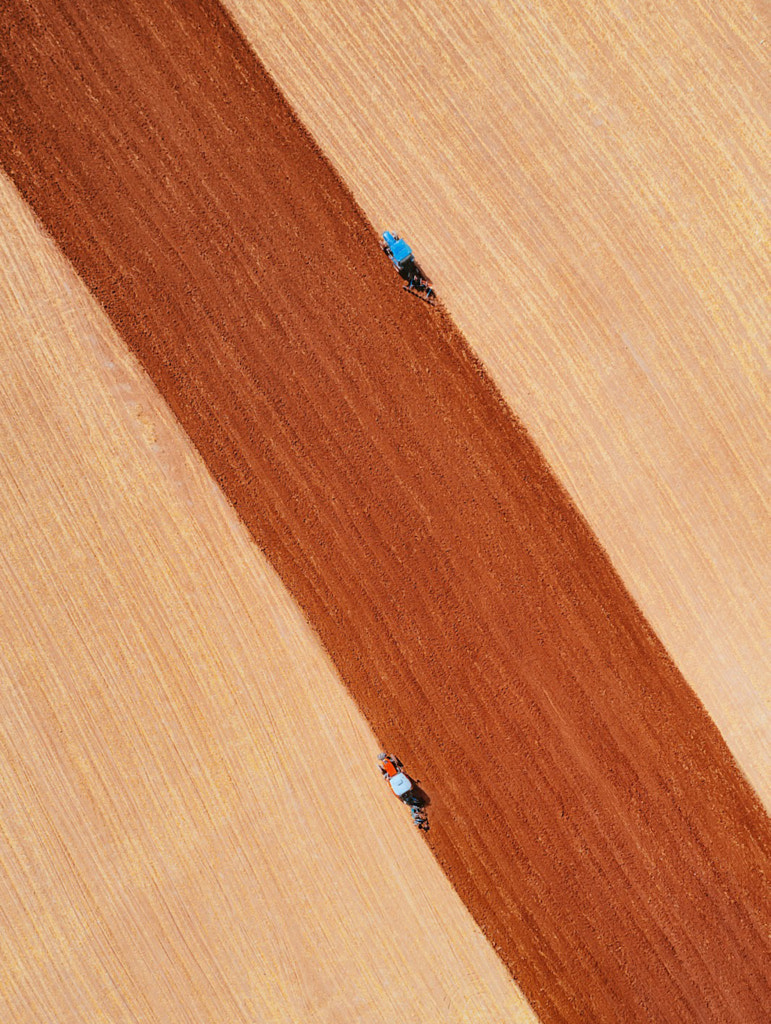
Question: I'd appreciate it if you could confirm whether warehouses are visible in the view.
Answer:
No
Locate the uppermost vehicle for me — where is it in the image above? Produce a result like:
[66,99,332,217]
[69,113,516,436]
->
[378,231,414,273]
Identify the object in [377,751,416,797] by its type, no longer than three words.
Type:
work vehicle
